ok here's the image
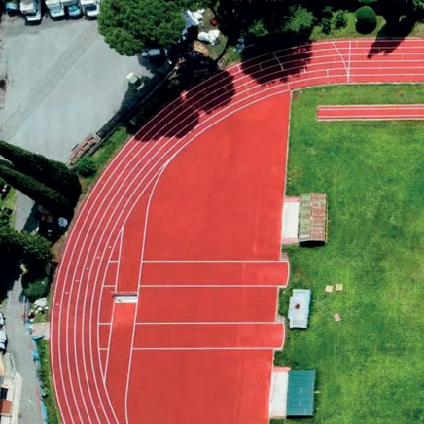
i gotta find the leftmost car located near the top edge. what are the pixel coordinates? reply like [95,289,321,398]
[2,1,26,16]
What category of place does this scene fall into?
sports ground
